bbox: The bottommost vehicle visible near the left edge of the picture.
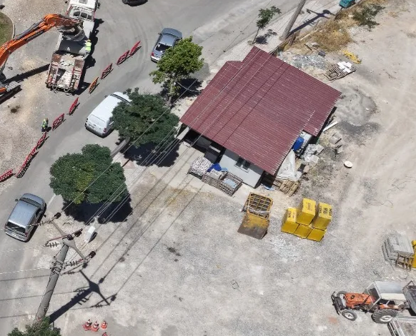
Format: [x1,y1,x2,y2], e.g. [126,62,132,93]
[1,193,52,247]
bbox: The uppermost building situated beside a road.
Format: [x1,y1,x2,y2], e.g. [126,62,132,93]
[168,45,341,190]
